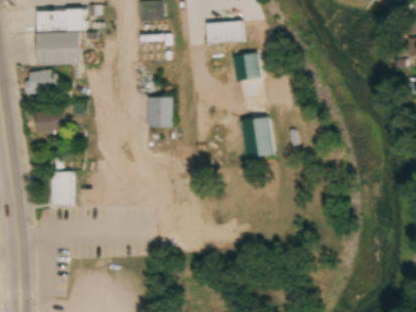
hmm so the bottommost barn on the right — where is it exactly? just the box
[242,118,278,158]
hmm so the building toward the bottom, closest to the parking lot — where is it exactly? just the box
[50,172,78,206]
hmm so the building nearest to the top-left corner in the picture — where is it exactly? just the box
[36,10,68,33]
